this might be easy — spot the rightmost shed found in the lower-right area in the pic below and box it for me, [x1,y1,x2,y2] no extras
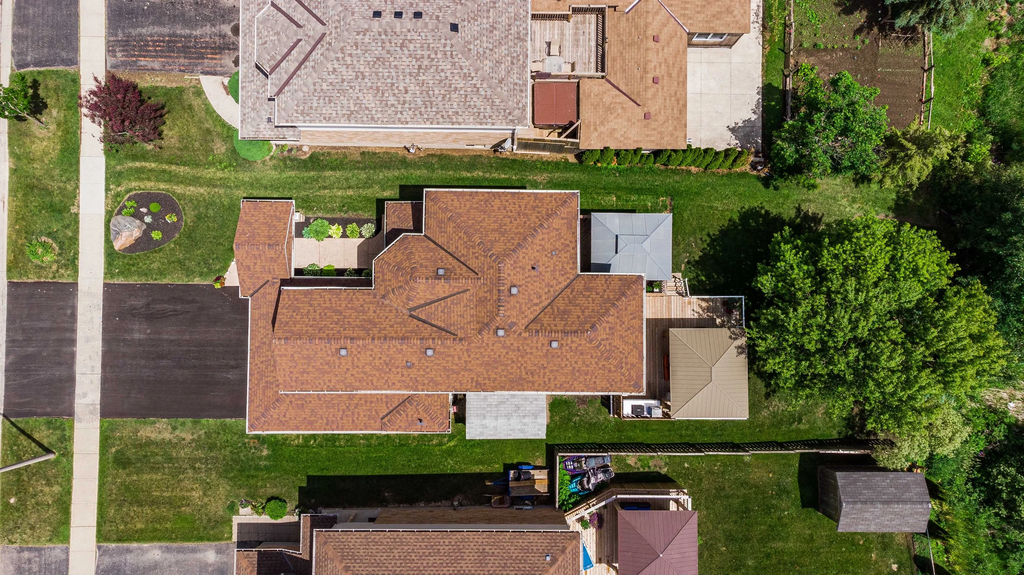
[818,466,932,532]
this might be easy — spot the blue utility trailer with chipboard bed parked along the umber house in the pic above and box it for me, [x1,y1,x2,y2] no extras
[484,462,550,502]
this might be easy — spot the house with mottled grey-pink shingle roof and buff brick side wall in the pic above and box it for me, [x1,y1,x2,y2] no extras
[238,0,532,150]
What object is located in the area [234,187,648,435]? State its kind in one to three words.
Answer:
house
